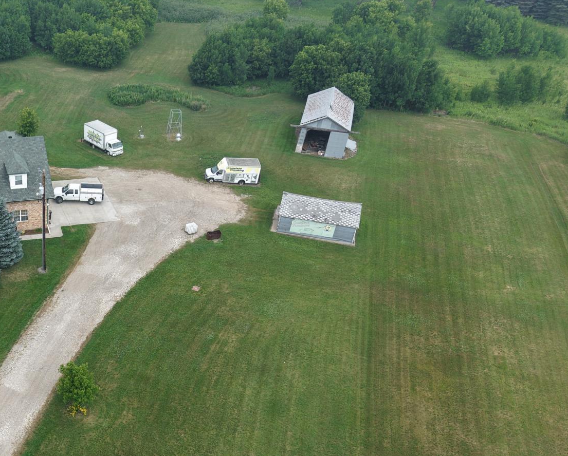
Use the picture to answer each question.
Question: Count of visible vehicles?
three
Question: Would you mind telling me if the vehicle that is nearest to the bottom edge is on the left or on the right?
left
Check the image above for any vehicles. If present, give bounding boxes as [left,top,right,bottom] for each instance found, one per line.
[204,154,259,185]
[51,184,104,205]
[77,118,123,155]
